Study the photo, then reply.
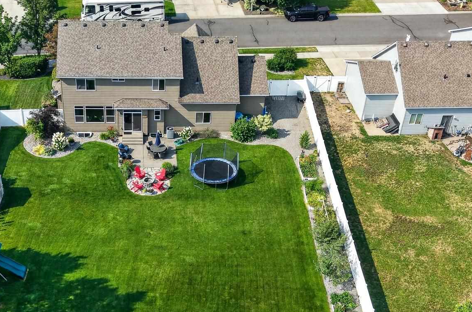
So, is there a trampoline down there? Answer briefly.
Yes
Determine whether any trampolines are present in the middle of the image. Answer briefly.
Yes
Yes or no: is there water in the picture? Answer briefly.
No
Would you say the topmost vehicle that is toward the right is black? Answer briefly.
Yes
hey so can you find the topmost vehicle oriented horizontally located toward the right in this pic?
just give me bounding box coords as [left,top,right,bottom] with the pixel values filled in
[282,3,334,24]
